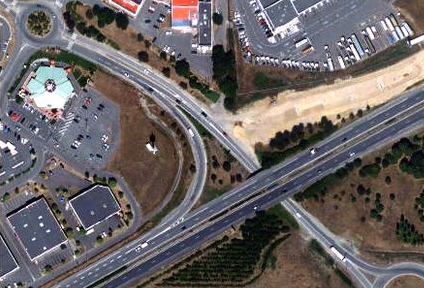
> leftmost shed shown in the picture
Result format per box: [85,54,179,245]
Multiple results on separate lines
[0,235,19,279]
